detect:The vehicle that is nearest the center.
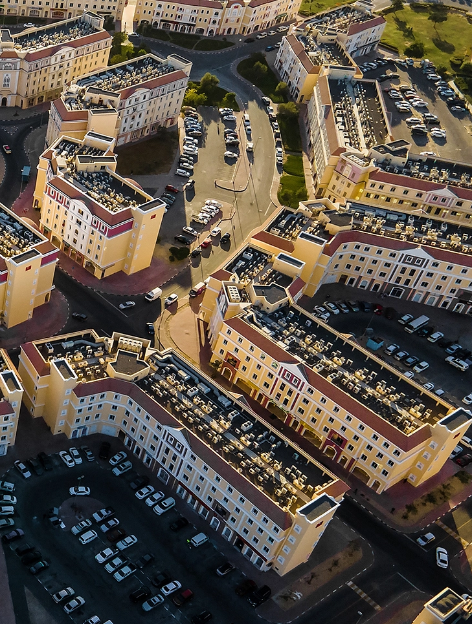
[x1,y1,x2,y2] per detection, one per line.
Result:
[189,282,203,295]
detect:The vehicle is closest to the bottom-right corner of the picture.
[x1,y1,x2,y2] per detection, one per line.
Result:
[435,549,448,568]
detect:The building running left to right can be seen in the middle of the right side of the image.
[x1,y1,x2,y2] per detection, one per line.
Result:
[250,198,472,311]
